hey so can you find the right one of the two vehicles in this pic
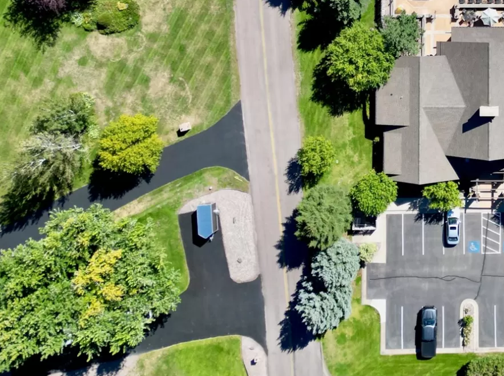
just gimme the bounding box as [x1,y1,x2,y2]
[445,207,462,244]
